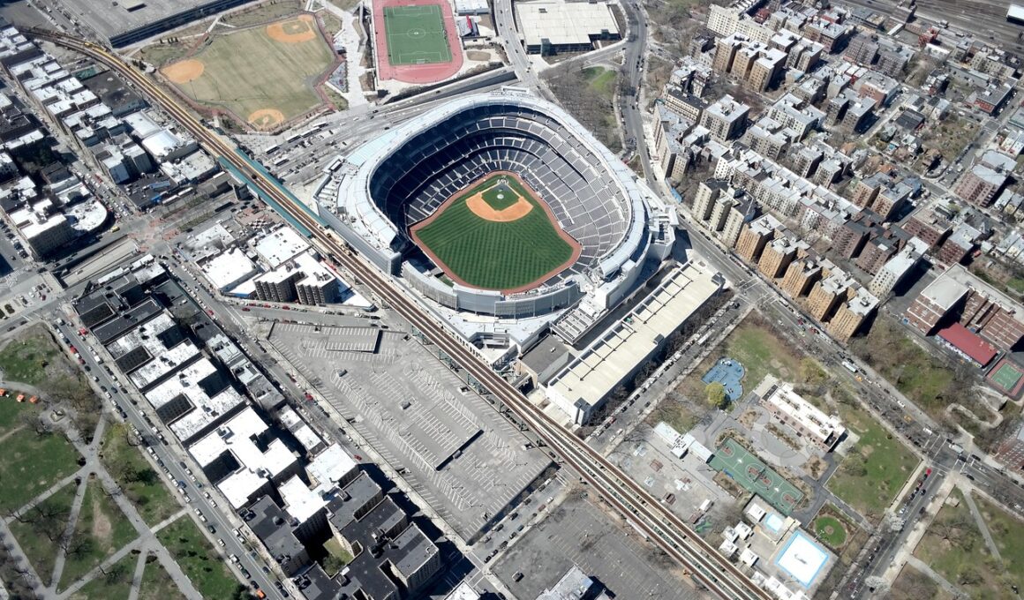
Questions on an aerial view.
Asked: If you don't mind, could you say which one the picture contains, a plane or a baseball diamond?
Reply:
baseball diamond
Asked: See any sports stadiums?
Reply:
Yes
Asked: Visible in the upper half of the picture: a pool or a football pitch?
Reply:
football pitch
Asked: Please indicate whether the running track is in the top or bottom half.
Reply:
top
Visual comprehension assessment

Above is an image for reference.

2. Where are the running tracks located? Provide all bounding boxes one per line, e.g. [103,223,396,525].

[372,0,463,83]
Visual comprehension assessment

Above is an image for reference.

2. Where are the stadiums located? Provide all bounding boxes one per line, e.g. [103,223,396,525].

[313,84,679,358]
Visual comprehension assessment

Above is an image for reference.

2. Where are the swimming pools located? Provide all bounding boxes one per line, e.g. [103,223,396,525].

[762,511,785,535]
[774,530,831,590]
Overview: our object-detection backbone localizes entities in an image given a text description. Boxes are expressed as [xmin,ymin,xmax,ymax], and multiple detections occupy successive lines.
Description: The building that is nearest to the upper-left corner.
[0,26,39,75]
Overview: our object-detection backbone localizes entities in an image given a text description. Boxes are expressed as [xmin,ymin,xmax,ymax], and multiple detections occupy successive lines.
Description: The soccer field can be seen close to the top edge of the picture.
[383,5,452,65]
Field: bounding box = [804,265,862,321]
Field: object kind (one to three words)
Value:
building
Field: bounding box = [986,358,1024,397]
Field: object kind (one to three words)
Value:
tennis court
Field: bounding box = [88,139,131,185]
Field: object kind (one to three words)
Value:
building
